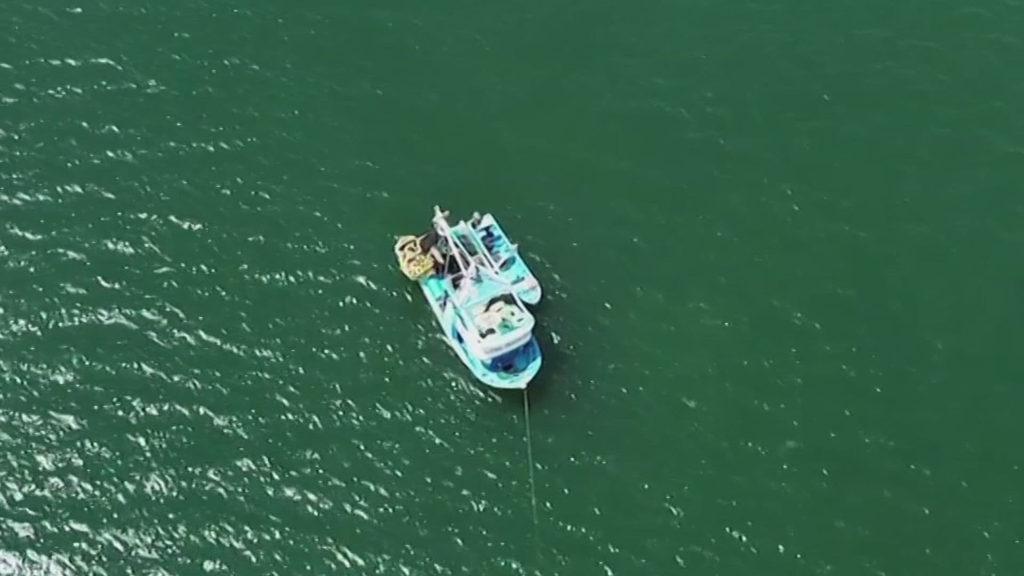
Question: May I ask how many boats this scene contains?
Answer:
2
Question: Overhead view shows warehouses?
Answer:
No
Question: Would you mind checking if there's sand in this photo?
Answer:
No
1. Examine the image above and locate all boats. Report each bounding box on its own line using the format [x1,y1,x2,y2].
[467,207,537,301]
[401,201,542,389]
